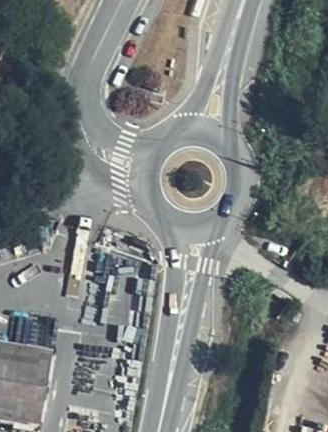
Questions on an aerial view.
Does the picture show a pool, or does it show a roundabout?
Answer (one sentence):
There is a roundabout in the scene.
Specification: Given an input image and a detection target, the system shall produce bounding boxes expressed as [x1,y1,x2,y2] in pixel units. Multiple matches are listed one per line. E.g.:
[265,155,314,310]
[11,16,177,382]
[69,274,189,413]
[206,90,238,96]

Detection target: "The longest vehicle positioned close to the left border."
[10,264,42,288]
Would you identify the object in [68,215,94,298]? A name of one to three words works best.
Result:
truck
